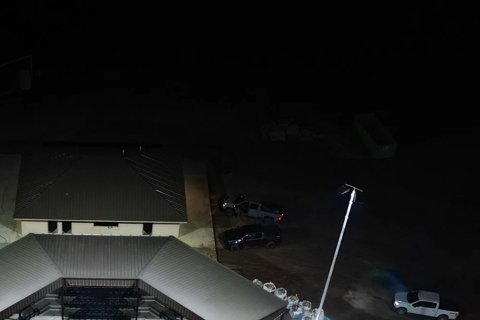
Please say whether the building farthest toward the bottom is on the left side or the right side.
left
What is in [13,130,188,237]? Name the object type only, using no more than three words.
building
